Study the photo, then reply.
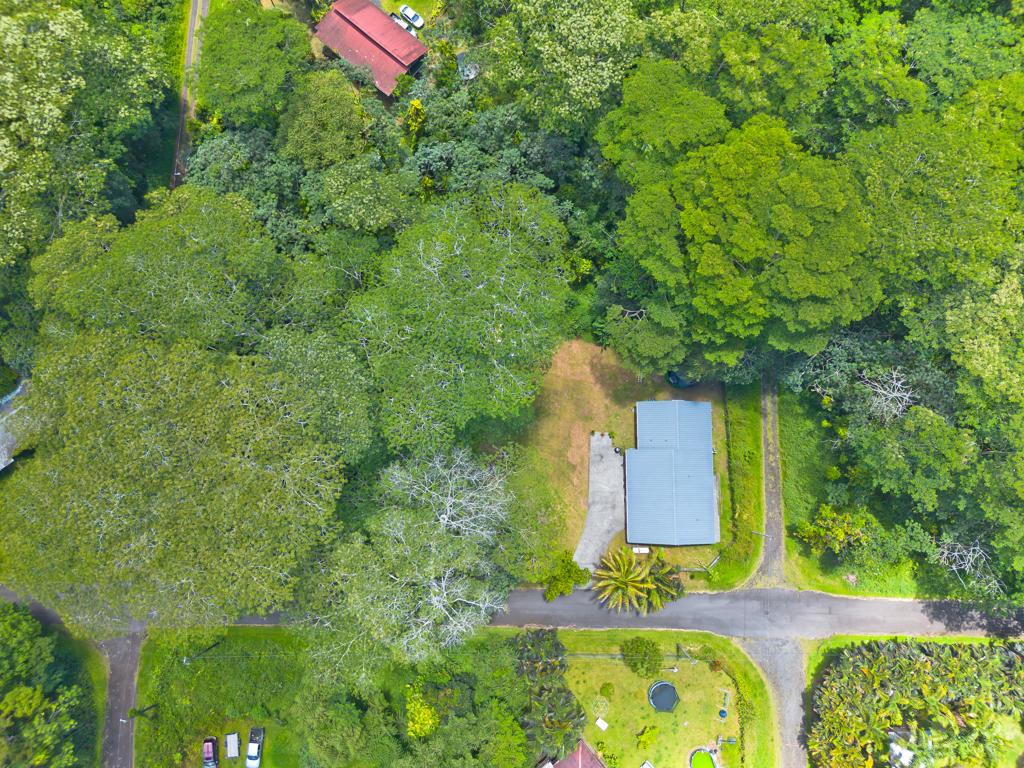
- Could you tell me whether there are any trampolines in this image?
Yes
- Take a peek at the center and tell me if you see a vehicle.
No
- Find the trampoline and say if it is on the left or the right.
right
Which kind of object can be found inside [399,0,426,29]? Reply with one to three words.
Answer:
car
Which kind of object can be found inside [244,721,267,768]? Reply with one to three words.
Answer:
truck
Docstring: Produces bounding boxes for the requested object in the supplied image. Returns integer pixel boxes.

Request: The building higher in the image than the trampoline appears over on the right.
[625,401,716,545]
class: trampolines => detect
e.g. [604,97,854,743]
[650,681,684,721]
